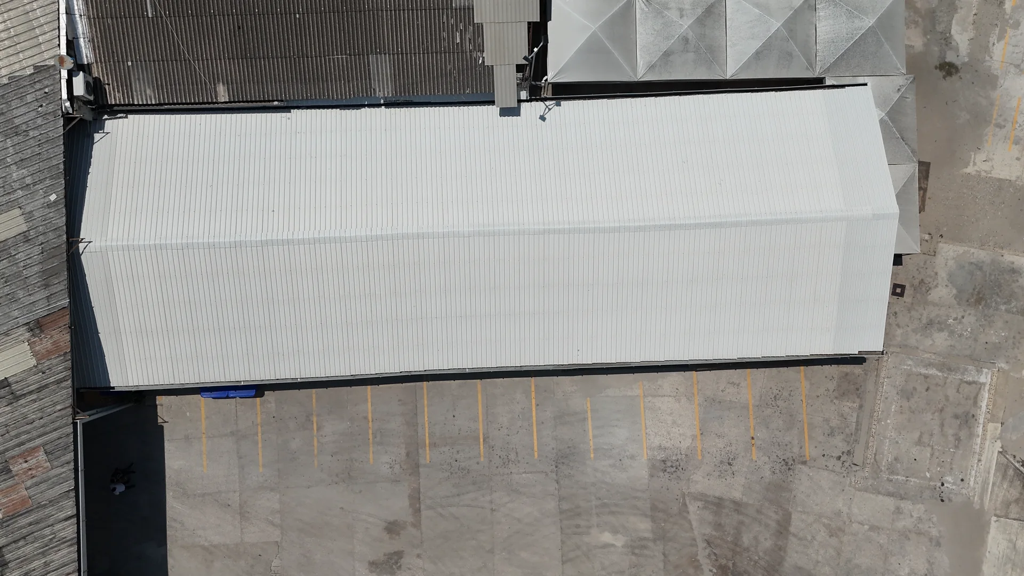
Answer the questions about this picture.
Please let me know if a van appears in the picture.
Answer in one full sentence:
No, there appears to be no van in this shot.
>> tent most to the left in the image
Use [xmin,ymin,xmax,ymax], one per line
[545,0,636,97]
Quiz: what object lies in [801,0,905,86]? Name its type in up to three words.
tent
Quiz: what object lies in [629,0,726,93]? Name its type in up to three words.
tent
